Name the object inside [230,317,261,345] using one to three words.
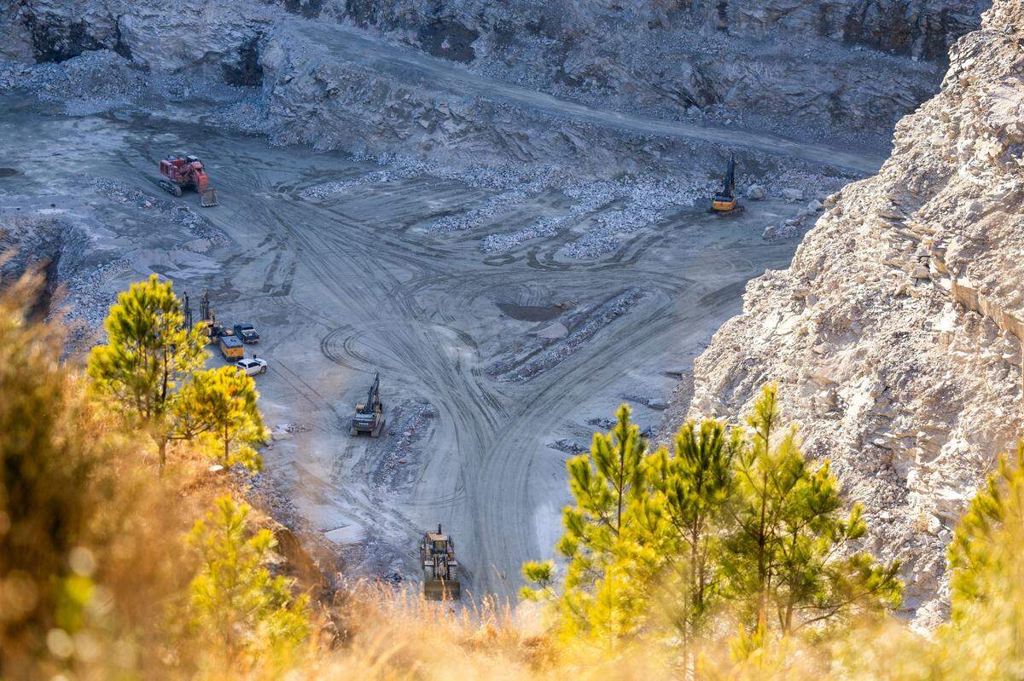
truck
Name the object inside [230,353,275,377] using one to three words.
truck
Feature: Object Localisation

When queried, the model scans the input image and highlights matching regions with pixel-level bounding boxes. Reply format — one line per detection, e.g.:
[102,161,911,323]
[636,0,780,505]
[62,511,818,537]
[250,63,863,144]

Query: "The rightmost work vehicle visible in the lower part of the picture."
[423,527,459,602]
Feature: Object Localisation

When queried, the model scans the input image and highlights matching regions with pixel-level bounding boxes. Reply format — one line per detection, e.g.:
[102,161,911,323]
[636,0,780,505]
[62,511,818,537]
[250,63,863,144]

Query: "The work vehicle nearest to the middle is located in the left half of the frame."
[345,360,388,440]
